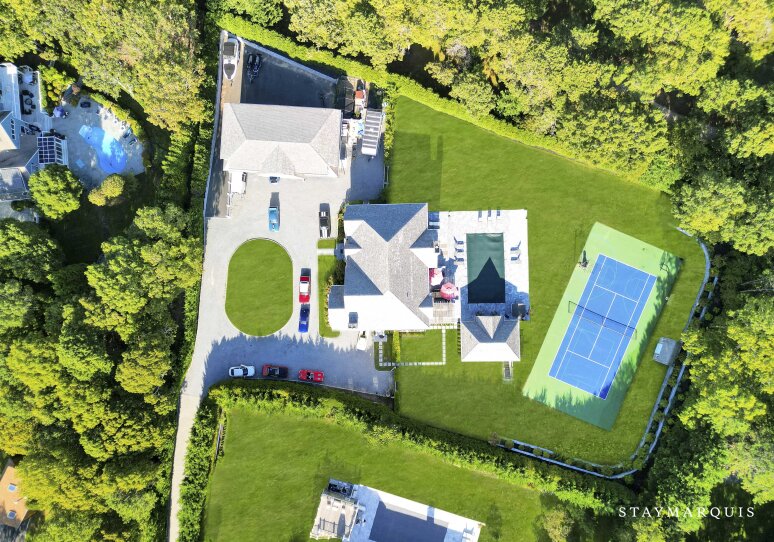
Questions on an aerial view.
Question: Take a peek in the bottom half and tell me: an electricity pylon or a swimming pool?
swimming pool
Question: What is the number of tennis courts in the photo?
one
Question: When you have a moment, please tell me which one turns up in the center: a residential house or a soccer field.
residential house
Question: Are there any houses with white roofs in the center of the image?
Yes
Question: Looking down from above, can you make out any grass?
Yes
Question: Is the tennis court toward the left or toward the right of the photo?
right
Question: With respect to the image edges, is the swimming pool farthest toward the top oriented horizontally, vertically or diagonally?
diagonally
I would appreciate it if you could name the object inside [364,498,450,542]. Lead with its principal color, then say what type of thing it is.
blue swimming pool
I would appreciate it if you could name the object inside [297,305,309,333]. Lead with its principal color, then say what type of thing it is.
blue vehicle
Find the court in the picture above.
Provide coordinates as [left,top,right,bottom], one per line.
[522,222,682,431]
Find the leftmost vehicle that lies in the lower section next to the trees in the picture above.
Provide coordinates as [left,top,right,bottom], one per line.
[228,363,255,378]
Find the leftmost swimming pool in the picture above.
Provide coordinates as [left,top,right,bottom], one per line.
[78,123,128,175]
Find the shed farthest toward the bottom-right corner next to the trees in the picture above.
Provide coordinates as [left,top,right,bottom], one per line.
[649,336,677,365]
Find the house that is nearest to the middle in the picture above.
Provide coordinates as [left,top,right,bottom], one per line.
[328,203,440,343]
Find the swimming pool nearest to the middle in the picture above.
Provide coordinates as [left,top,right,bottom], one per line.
[466,232,506,305]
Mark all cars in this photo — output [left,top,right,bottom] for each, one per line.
[298,275,310,304]
[297,305,309,333]
[268,206,279,233]
[261,365,289,378]
[228,363,255,378]
[318,210,330,239]
[298,371,325,383]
